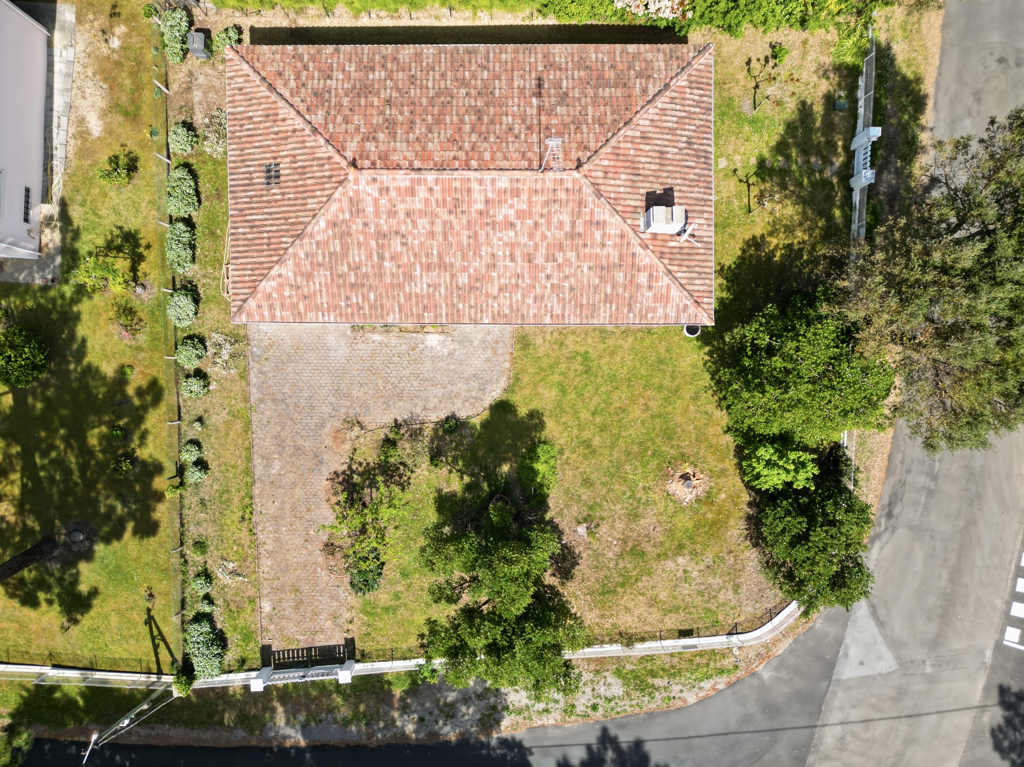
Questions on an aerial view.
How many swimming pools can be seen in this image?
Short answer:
none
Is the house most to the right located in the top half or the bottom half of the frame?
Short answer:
top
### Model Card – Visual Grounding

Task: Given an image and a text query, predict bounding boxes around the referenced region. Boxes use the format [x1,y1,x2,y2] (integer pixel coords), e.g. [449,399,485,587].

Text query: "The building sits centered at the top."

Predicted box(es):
[221,40,718,328]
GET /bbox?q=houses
[0,0,52,255]
[221,40,718,328]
